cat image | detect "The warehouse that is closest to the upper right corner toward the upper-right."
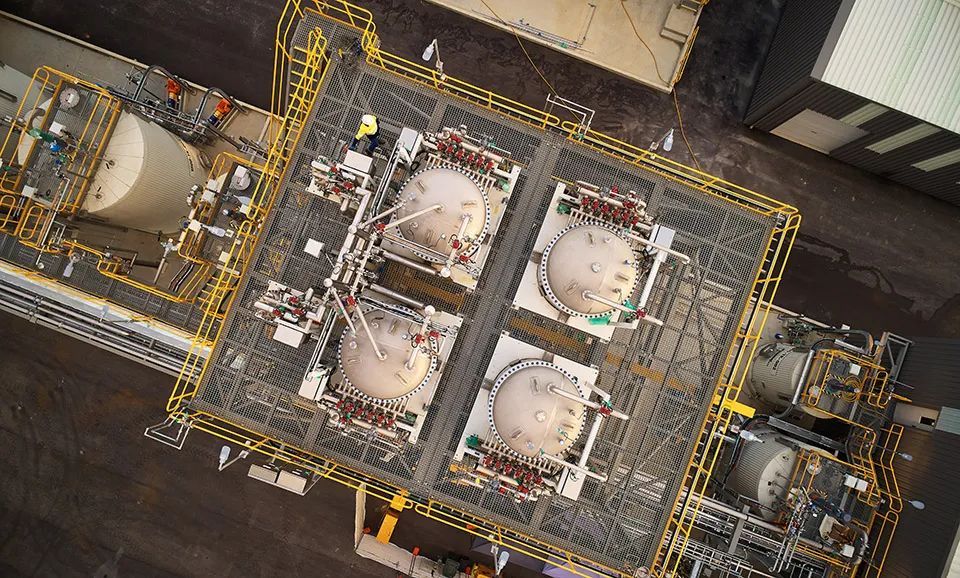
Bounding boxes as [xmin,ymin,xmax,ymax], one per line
[742,0,960,205]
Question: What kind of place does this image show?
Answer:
industrial area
